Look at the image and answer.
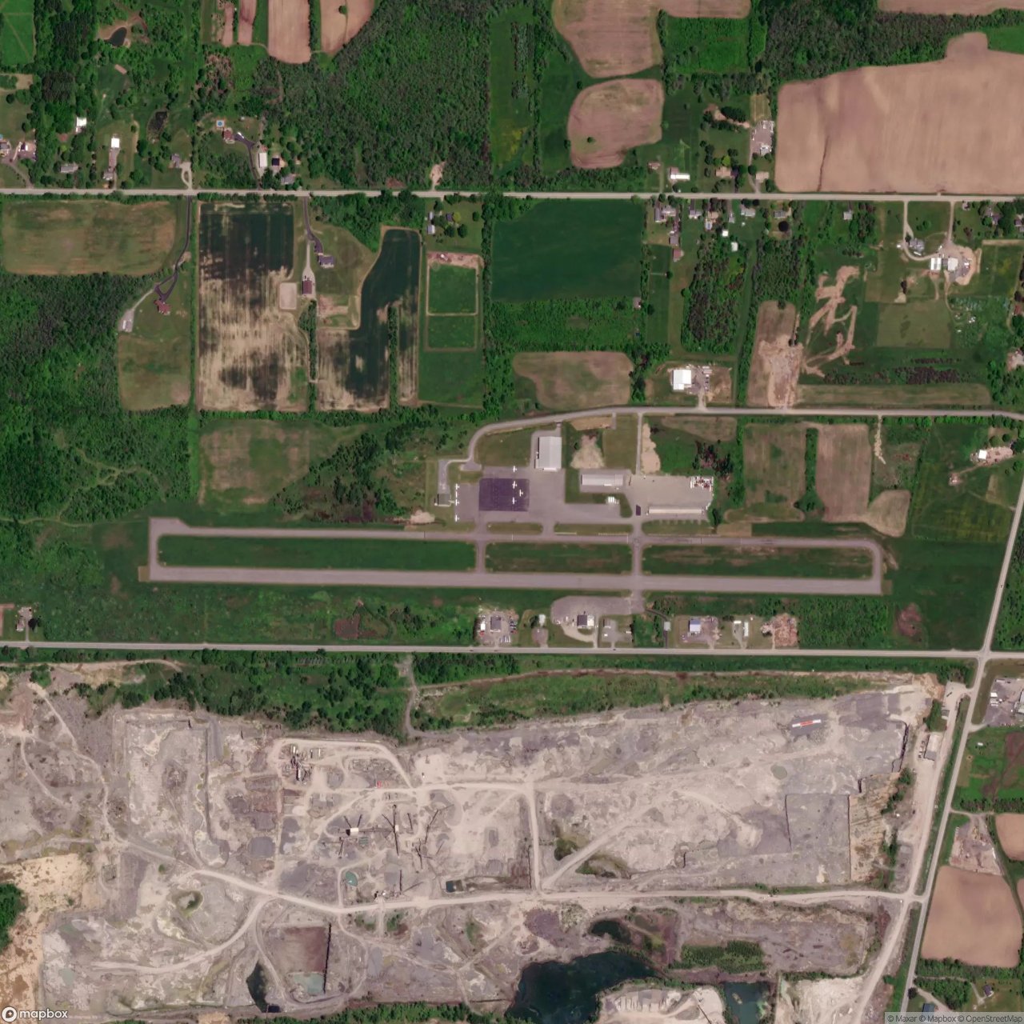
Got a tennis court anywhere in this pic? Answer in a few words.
No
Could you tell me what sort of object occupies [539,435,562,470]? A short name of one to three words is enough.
hangar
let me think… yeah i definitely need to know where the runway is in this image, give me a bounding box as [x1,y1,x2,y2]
[150,567,881,594]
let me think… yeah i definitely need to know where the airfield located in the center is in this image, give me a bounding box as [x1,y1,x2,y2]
[139,425,892,641]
